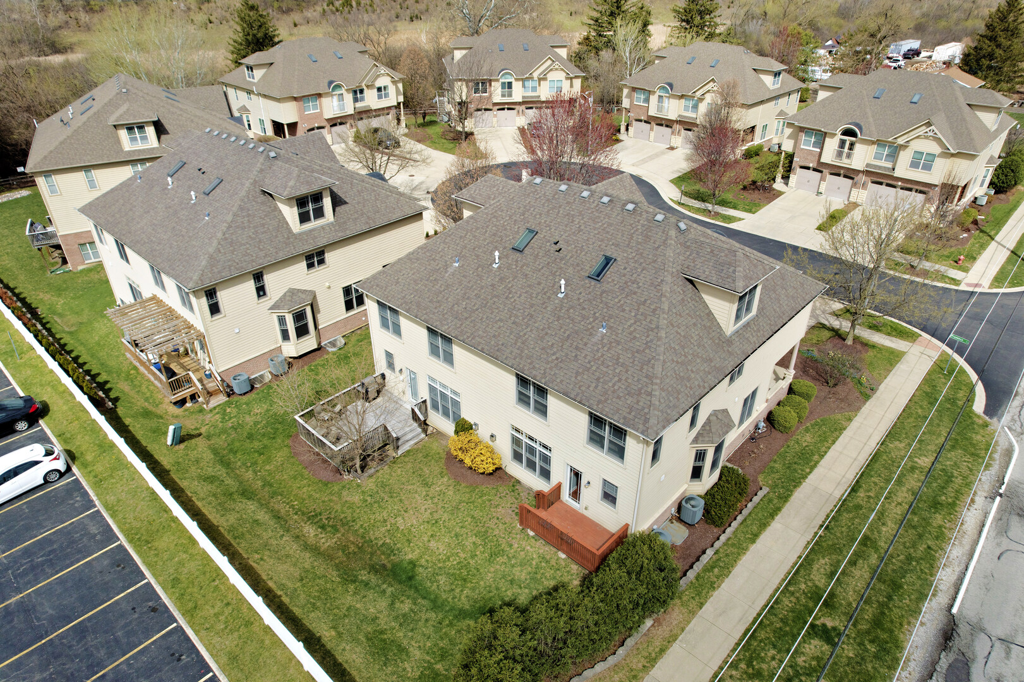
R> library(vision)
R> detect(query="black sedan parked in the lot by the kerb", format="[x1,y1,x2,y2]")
[0,397,33,433]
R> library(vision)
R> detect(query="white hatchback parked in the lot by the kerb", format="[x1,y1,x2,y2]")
[0,444,62,498]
